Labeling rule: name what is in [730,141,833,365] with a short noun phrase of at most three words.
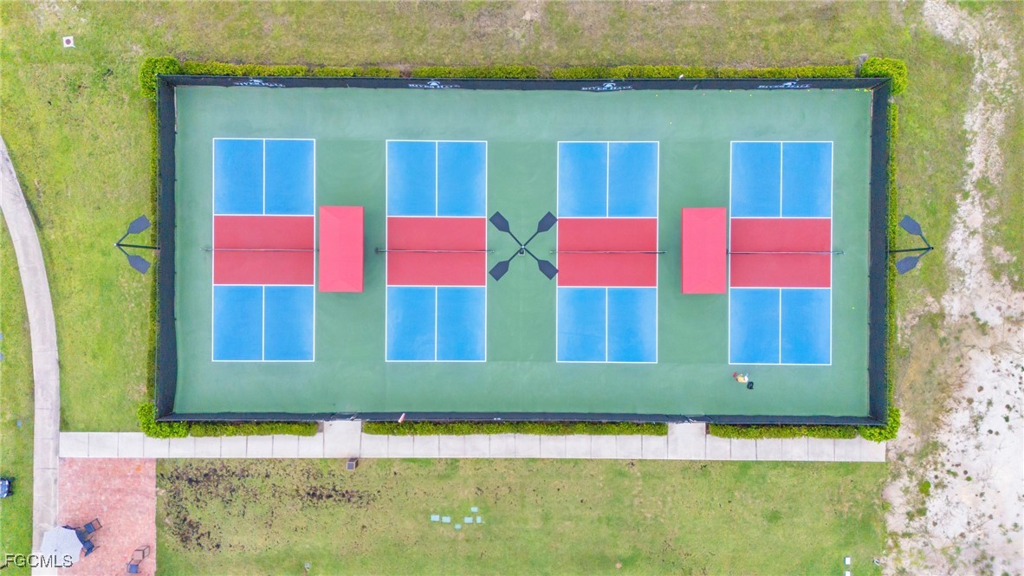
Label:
sports court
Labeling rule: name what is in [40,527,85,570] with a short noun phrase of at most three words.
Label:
umbrella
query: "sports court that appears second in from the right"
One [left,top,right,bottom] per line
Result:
[558,141,658,364]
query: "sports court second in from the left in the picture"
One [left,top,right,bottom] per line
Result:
[386,140,487,362]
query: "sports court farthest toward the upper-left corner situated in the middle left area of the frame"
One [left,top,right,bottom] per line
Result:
[212,138,315,362]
